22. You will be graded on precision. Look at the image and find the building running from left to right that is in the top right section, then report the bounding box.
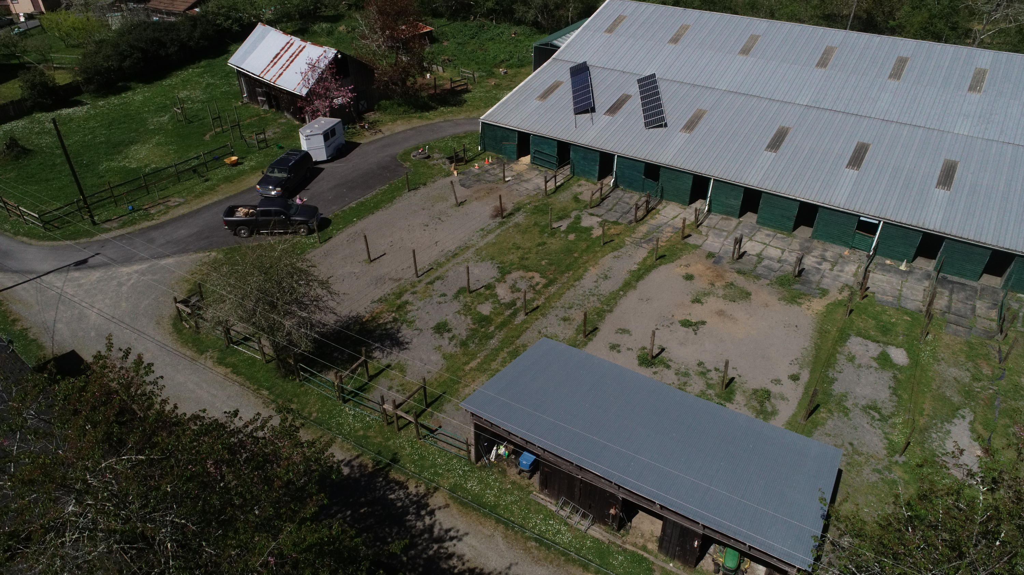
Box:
[476,0,1024,293]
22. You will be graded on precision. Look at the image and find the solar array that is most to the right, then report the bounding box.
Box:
[637,76,666,133]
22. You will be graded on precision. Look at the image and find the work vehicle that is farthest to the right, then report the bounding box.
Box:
[708,544,753,575]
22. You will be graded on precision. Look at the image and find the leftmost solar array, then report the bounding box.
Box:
[569,61,593,126]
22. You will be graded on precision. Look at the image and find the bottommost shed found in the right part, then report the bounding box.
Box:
[459,338,842,575]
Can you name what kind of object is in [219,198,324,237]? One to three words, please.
truck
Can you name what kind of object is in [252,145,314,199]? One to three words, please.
car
